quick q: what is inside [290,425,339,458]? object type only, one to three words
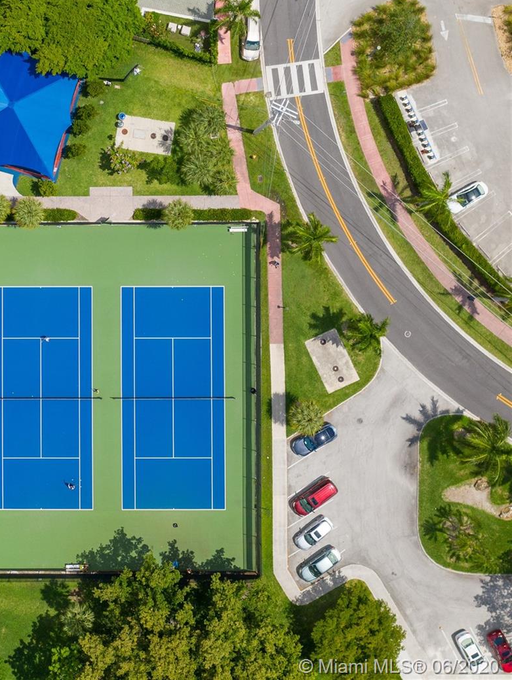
car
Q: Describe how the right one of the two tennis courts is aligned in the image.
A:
from top to bottom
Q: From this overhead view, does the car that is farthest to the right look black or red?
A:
red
